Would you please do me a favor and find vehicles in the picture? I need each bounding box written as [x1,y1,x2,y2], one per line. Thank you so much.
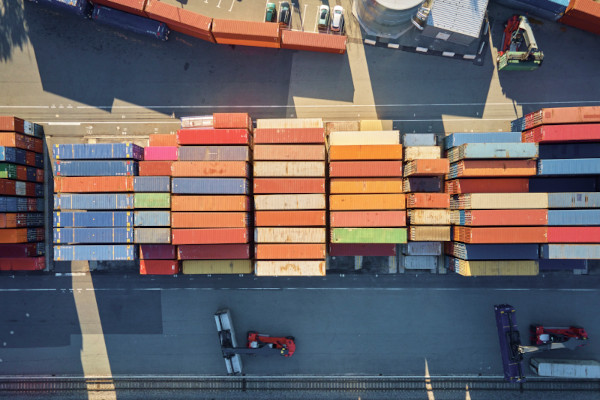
[318,5,330,29]
[495,8,544,66]
[332,6,345,32]
[279,2,292,27]
[498,307,586,381]
[265,2,277,23]
[210,307,297,378]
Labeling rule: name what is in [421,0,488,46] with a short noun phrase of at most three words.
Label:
building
